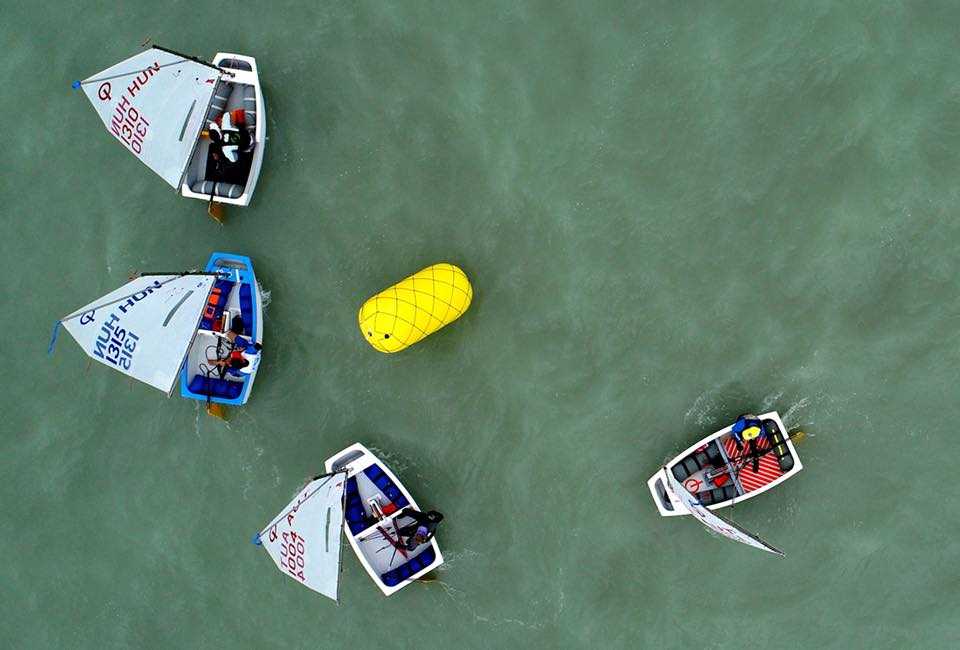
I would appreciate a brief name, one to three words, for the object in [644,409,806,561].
boat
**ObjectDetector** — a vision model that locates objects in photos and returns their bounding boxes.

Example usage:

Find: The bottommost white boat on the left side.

[250,441,446,607]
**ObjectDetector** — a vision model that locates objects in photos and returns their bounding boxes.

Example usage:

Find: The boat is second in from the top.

[52,251,263,420]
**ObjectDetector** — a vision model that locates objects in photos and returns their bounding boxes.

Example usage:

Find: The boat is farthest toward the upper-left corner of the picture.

[72,38,266,218]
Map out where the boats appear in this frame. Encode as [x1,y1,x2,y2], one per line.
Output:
[52,251,263,420]
[250,441,446,607]
[72,38,266,218]
[644,409,806,561]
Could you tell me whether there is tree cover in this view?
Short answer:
No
